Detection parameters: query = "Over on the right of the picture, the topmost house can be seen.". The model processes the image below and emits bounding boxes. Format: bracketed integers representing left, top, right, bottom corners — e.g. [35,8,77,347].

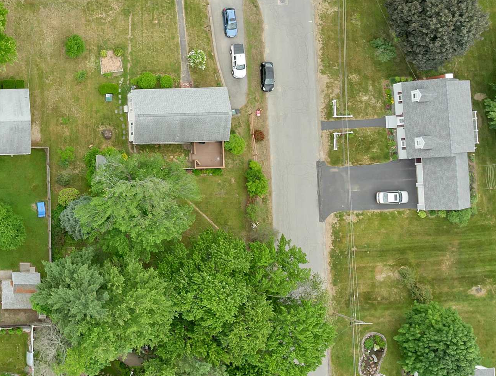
[384,73,480,210]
